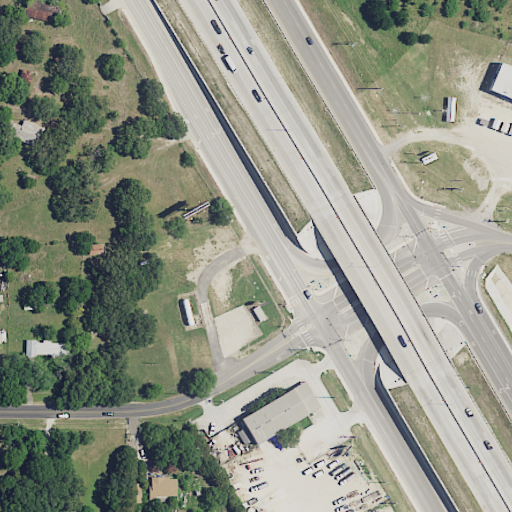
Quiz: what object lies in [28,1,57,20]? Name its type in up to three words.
barn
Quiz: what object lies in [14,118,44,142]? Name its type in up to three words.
house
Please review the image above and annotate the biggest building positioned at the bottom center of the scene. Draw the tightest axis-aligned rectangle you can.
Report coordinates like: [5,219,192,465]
[244,382,320,444]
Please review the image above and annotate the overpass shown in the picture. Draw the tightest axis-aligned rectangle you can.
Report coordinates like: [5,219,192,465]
[310,192,452,386]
